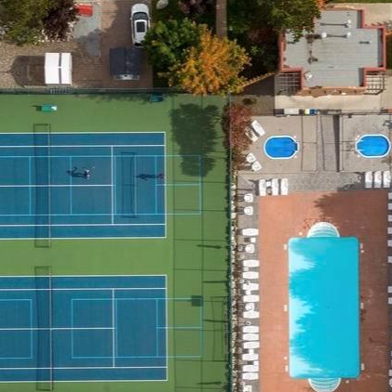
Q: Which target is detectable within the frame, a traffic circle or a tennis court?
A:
tennis court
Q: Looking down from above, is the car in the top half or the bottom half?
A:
top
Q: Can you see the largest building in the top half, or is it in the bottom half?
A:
top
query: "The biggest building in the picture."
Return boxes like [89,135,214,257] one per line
[278,6,387,96]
